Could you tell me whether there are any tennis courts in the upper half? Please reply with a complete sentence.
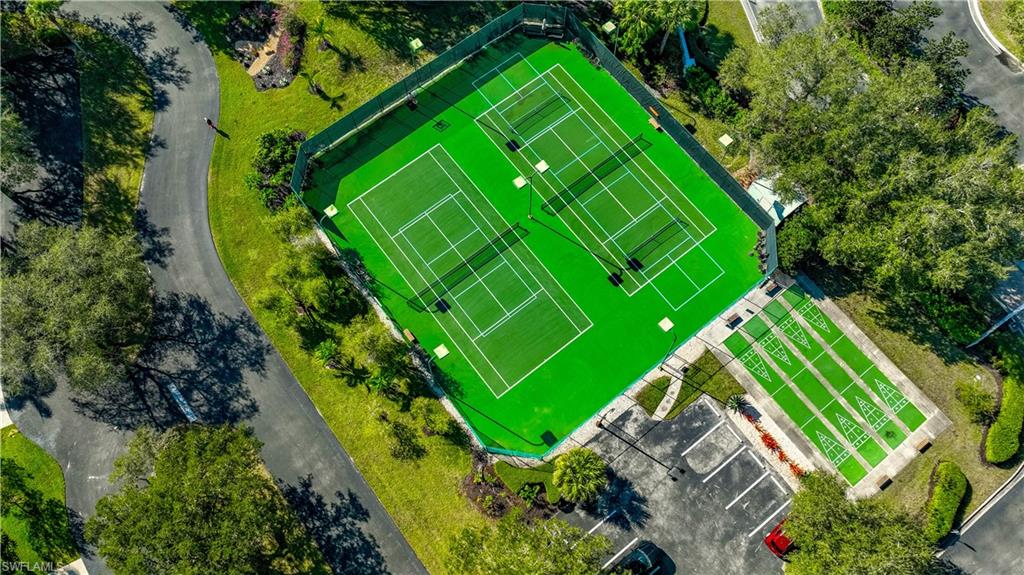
Yes, a tennis court can be seen in the upper half.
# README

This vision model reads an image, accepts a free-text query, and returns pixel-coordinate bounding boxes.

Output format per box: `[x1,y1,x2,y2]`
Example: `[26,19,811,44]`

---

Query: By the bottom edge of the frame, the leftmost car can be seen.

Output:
[619,549,666,575]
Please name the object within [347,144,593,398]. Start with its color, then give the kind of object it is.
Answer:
green tennis court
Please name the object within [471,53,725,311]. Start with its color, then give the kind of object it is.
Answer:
green tennis court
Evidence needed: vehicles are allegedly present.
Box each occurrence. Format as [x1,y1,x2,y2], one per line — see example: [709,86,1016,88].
[767,507,810,556]
[619,549,666,575]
